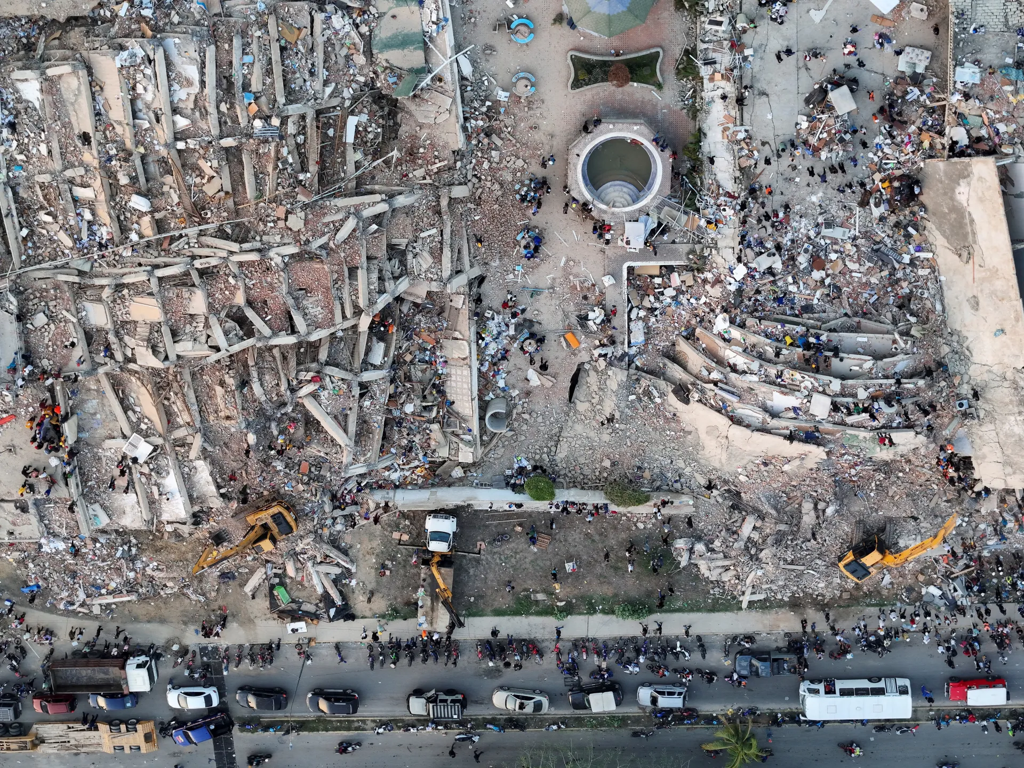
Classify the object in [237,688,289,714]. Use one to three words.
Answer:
car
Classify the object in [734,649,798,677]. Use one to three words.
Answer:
truck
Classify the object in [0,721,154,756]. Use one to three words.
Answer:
trailer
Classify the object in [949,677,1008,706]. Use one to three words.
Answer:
car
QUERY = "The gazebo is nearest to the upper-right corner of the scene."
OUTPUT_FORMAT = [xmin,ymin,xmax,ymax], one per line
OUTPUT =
[561,0,658,44]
